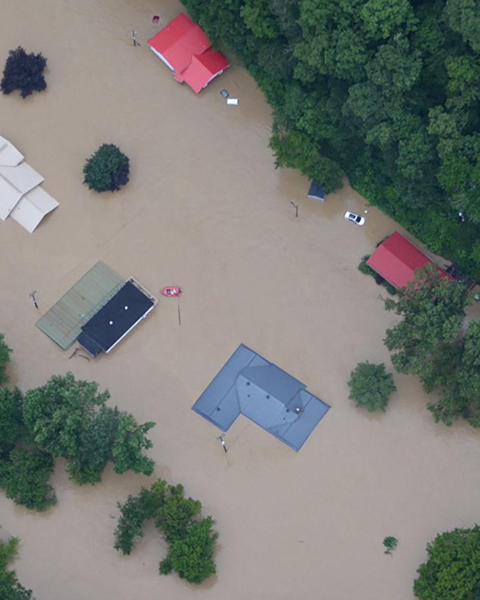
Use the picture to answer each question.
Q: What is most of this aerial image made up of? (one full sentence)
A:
For the most part, this view shows water.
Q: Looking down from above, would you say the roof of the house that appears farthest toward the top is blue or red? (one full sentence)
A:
The roof of the house that appears farthest toward the top is red.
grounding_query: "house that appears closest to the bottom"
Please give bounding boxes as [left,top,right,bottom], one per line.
[192,343,332,453]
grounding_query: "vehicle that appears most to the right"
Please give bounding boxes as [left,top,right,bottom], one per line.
[343,211,366,226]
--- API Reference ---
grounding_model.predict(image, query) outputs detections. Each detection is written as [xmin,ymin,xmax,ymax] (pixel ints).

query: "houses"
[192,343,332,453]
[366,232,450,300]
[0,136,59,234]
[147,13,230,94]
[36,261,158,357]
